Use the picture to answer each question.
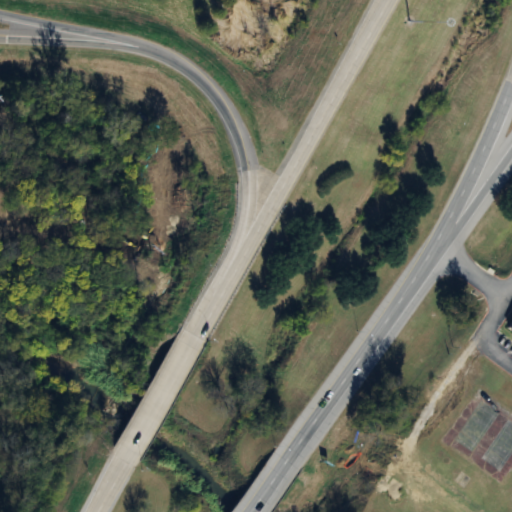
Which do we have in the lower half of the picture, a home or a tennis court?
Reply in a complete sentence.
The feature located in the lower half of the picture is a tennis court.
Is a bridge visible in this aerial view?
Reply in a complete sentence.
Yes, the picture does show a bridge.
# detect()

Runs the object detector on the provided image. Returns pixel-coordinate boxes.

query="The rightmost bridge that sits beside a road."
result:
[232,447,304,512]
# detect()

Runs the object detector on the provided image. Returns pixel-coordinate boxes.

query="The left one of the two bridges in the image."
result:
[110,326,208,463]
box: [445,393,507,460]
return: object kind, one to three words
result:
tennis court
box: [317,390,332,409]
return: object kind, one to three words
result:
vehicle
